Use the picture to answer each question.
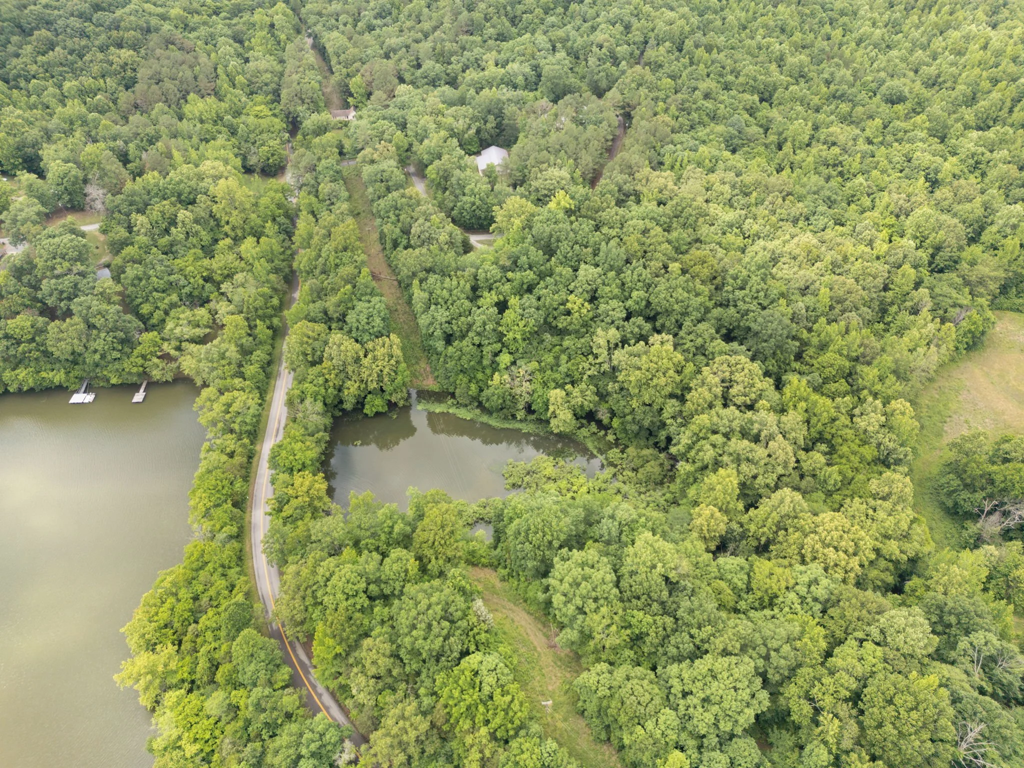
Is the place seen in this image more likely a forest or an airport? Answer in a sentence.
The picture captures a forest.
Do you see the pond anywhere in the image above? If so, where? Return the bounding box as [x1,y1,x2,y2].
[323,389,649,537]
